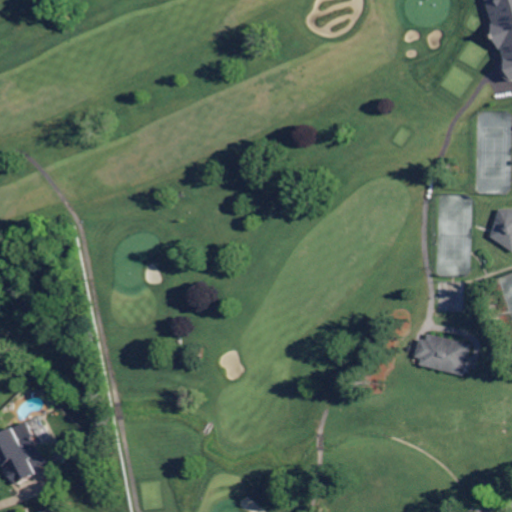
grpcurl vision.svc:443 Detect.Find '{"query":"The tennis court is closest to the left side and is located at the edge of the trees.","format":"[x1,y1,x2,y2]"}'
[438,196,472,275]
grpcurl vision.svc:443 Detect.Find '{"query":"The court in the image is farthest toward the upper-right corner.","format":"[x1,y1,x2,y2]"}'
[476,112,511,192]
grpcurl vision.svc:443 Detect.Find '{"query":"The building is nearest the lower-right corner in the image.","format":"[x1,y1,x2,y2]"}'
[414,335,470,376]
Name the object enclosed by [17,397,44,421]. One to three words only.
swimming pool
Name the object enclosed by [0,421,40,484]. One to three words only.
house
